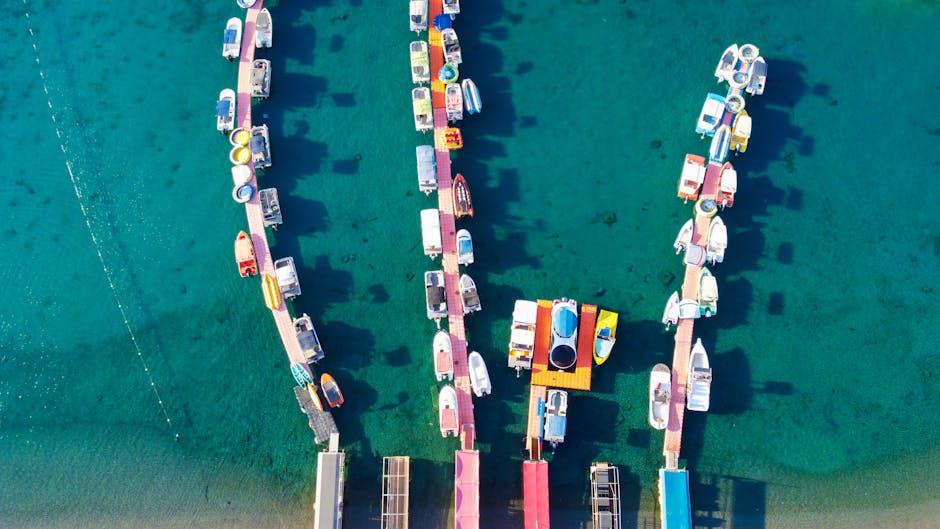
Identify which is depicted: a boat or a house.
boat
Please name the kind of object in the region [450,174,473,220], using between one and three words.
boat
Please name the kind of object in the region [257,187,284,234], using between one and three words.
boat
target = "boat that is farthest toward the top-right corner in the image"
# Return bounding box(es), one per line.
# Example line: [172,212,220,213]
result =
[744,55,770,104]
